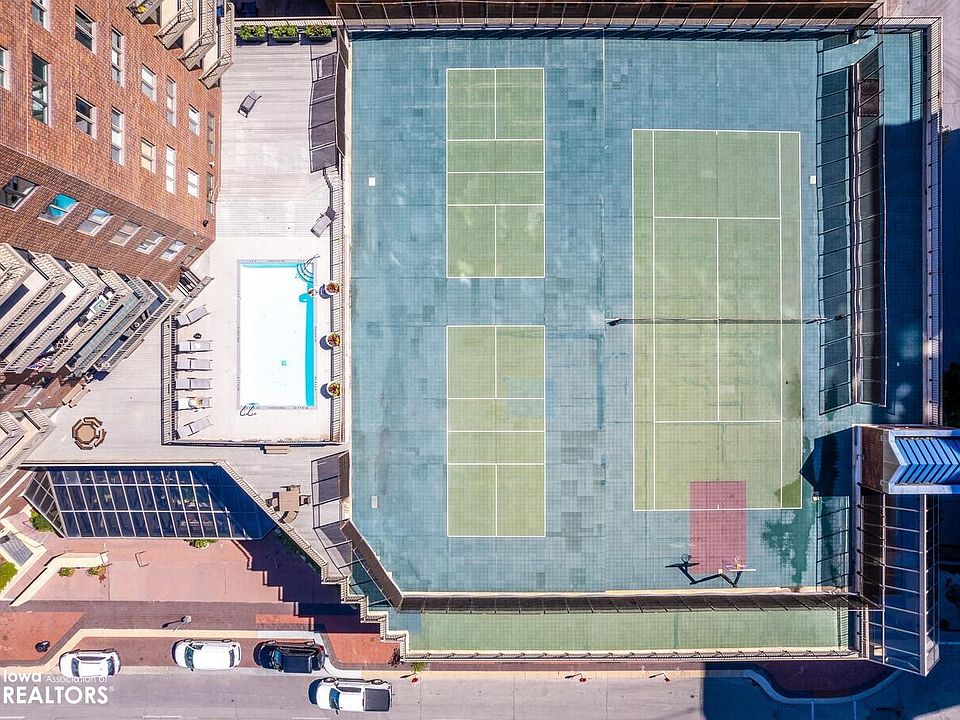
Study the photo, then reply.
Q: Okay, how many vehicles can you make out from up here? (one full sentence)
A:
The count of vehicles comes to 4.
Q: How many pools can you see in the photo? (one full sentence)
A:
Altogether the scene contains 1 pool.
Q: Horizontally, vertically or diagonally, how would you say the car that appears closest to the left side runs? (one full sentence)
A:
The car that appears closest to the left side is oriented horizontally.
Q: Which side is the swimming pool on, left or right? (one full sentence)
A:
It is on the left.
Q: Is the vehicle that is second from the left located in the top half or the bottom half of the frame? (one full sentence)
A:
The vehicle that is second from the left is in the bottom half of the image.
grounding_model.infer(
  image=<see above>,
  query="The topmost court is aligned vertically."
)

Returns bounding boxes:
[446,68,546,278]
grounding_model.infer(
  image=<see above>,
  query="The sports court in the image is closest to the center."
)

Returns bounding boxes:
[446,325,547,537]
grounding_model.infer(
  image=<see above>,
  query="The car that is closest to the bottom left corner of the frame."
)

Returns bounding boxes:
[60,649,124,682]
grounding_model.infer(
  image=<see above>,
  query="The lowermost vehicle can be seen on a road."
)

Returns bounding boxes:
[316,678,394,715]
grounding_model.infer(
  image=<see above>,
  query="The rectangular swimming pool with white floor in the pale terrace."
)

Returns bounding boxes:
[238,256,319,415]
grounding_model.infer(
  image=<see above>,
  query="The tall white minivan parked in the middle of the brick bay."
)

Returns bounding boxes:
[175,638,243,673]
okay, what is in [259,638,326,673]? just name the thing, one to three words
car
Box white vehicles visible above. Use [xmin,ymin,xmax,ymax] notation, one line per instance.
[60,649,124,682]
[175,638,243,673]
[316,678,394,715]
